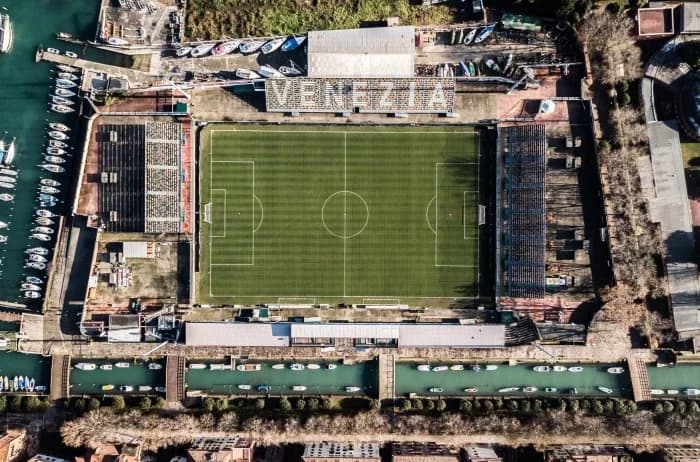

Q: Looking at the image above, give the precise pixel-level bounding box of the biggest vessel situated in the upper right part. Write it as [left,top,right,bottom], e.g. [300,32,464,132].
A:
[500,13,542,33]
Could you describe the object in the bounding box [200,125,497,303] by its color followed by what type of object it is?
green soccer field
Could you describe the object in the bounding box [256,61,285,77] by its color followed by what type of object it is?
white boat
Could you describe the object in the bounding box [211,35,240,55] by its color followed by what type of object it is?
white boat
